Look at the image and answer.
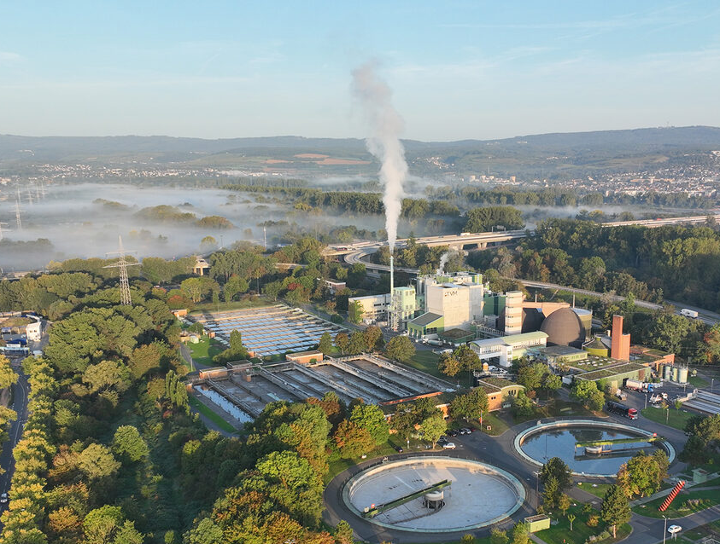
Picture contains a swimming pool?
No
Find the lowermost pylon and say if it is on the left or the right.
left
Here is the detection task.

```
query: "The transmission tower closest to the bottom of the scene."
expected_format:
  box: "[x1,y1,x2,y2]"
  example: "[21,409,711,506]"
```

[112,237,134,307]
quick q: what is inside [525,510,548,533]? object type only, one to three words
shed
